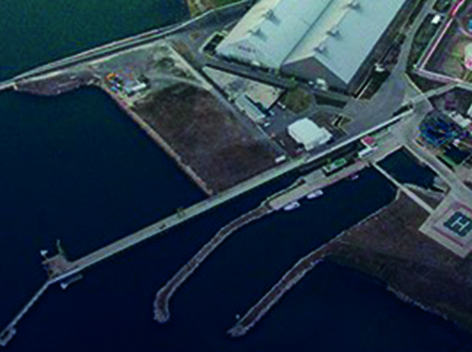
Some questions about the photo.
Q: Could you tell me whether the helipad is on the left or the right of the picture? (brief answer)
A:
right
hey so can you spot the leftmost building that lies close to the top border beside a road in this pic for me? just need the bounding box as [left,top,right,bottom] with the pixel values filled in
[215,0,331,73]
